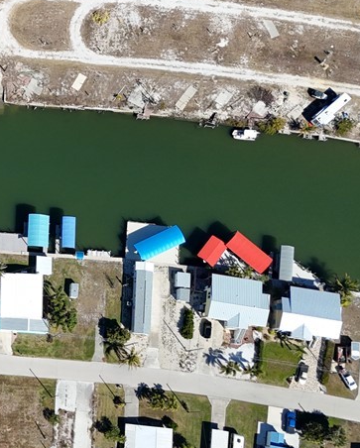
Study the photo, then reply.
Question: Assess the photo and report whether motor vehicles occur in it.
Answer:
Yes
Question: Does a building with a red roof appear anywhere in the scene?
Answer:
Yes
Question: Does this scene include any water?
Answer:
Yes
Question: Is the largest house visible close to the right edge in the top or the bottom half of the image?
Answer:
bottom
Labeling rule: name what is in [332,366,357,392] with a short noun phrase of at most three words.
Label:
truck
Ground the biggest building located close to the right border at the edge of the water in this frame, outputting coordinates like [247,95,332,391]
[274,286,346,340]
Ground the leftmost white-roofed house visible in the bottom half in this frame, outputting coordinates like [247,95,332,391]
[0,257,52,333]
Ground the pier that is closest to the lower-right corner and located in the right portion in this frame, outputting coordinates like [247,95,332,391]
[291,259,326,290]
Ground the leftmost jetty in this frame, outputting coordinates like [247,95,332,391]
[0,231,28,252]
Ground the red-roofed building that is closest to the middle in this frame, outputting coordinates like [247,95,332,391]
[190,235,227,268]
